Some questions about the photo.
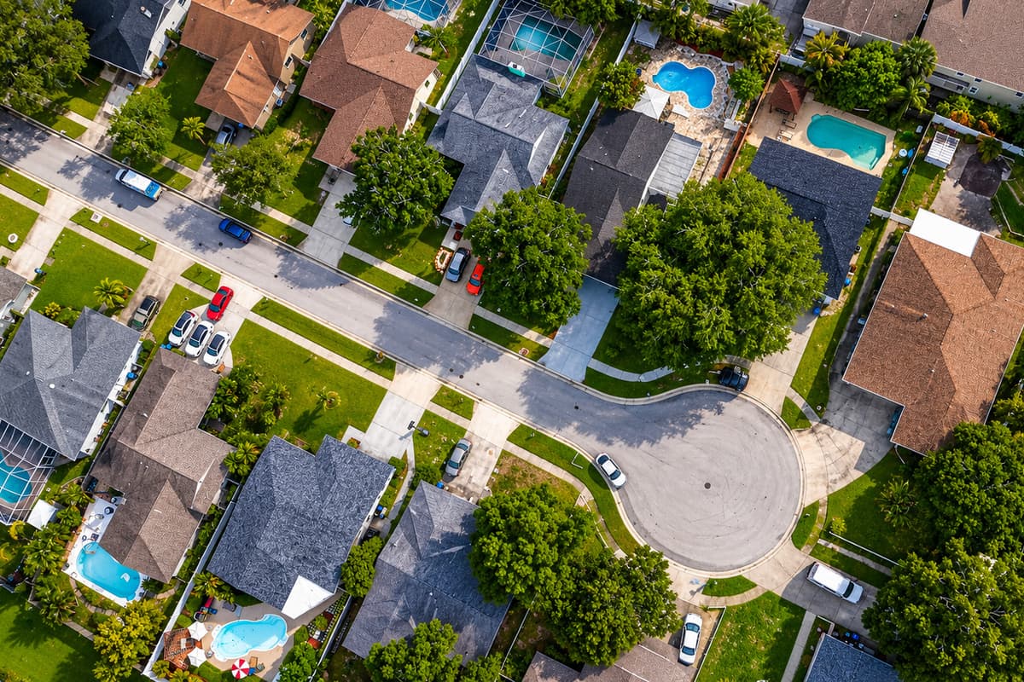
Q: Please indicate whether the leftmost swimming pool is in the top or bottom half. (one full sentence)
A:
You can find the leftmost swimming pool in the bottom half.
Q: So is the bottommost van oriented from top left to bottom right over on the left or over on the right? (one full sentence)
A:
It is on the right.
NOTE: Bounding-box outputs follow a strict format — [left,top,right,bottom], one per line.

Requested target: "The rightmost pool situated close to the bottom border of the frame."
[210,611,289,662]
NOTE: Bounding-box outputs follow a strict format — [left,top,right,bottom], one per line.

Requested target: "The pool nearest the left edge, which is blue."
[0,450,33,506]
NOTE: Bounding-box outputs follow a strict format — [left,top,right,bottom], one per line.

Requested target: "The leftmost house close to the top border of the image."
[63,0,182,81]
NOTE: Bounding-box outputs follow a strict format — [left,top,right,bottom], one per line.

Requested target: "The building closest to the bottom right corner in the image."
[802,633,910,682]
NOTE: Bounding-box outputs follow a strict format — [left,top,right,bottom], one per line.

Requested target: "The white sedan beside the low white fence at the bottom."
[677,612,702,665]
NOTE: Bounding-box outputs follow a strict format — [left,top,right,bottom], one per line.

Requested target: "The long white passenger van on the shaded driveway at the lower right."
[803,559,864,605]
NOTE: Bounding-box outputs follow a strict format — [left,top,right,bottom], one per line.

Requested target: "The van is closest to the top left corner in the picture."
[115,169,167,205]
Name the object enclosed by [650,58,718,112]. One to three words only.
swimming pool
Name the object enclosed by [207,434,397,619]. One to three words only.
house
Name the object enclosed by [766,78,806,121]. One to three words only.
gazebo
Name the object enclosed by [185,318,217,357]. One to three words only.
car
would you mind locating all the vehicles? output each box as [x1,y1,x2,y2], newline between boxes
[185,318,217,357]
[205,329,234,367]
[445,244,475,286]
[677,612,702,665]
[115,169,167,205]
[133,294,162,332]
[803,559,864,605]
[220,218,256,246]
[217,120,241,153]
[445,436,473,478]
[593,451,629,491]
[712,363,754,394]
[208,285,236,322]
[170,309,201,347]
